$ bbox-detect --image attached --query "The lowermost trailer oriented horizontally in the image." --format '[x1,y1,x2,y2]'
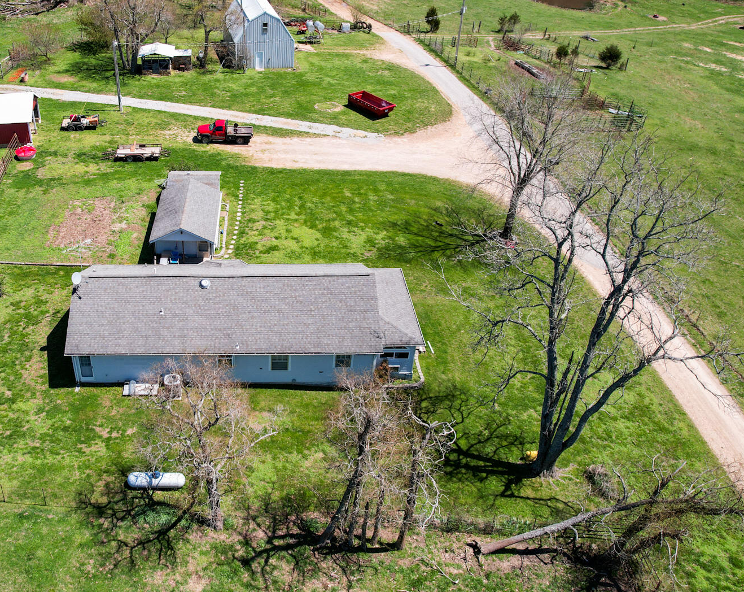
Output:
[99,143,177,163]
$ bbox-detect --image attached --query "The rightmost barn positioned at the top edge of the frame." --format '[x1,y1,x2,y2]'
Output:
[220,0,314,71]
